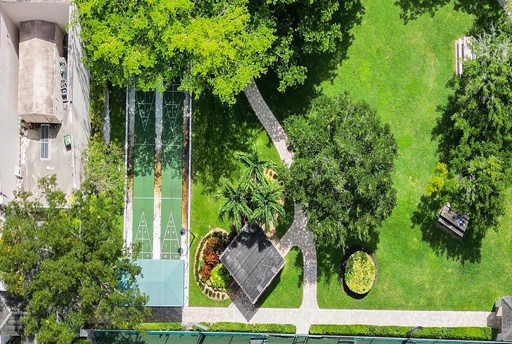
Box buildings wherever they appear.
[19,20,62,122]
[220,222,286,304]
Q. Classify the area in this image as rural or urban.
rural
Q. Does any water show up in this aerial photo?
No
